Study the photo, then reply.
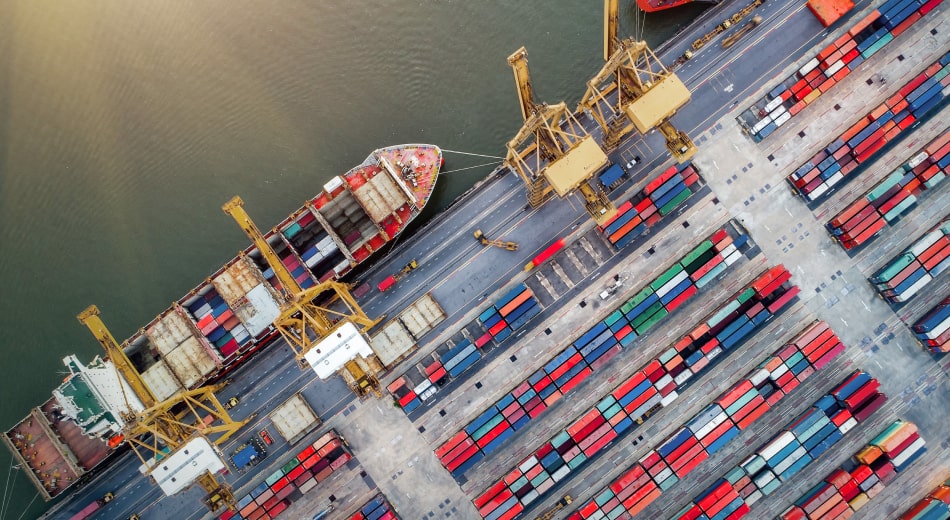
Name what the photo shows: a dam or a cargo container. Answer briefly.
cargo container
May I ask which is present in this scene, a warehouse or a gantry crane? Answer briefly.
gantry crane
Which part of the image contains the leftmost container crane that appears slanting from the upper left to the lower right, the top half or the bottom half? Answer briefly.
bottom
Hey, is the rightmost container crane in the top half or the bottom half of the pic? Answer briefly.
top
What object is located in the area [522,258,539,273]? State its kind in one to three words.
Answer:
vehicle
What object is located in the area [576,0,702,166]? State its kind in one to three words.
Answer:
container crane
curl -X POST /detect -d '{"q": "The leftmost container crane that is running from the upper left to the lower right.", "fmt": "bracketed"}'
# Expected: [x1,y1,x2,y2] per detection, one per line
[79,299,253,516]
